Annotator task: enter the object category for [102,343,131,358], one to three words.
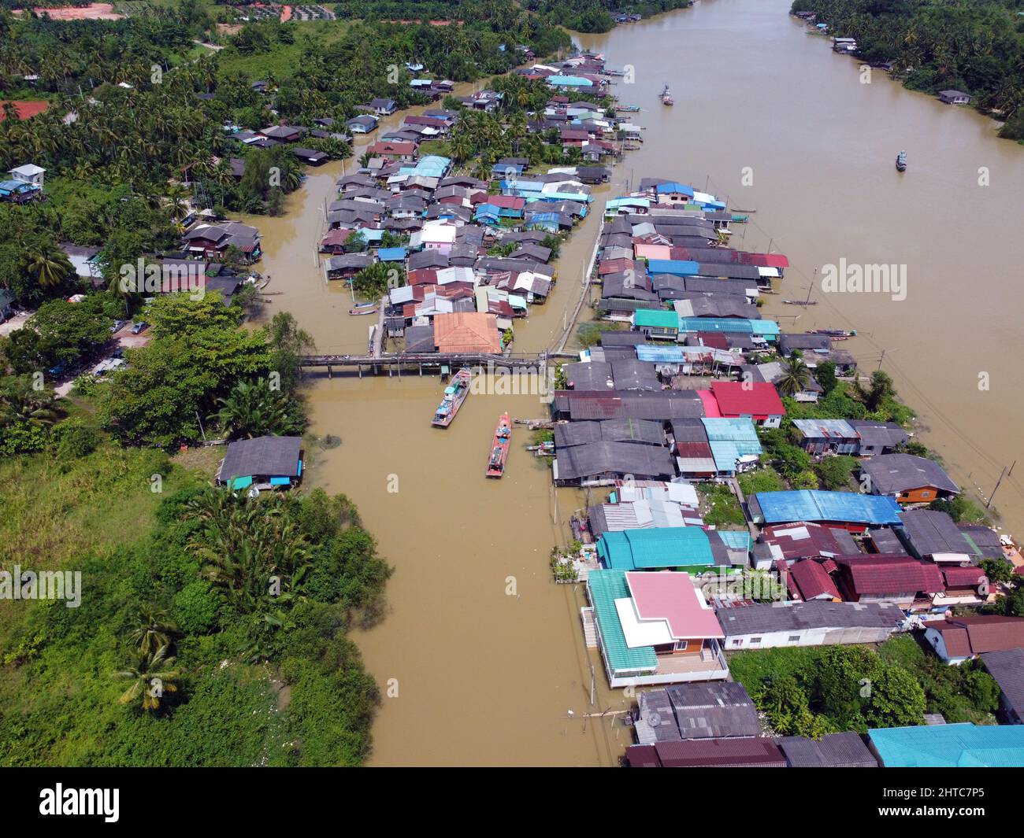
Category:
car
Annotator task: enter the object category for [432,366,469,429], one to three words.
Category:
boat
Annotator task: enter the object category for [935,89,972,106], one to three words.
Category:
house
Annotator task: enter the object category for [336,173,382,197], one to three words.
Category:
house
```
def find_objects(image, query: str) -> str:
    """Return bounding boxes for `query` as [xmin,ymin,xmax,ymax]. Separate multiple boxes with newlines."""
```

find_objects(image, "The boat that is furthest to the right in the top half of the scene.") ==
[890,142,911,168]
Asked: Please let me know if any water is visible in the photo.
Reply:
Yes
